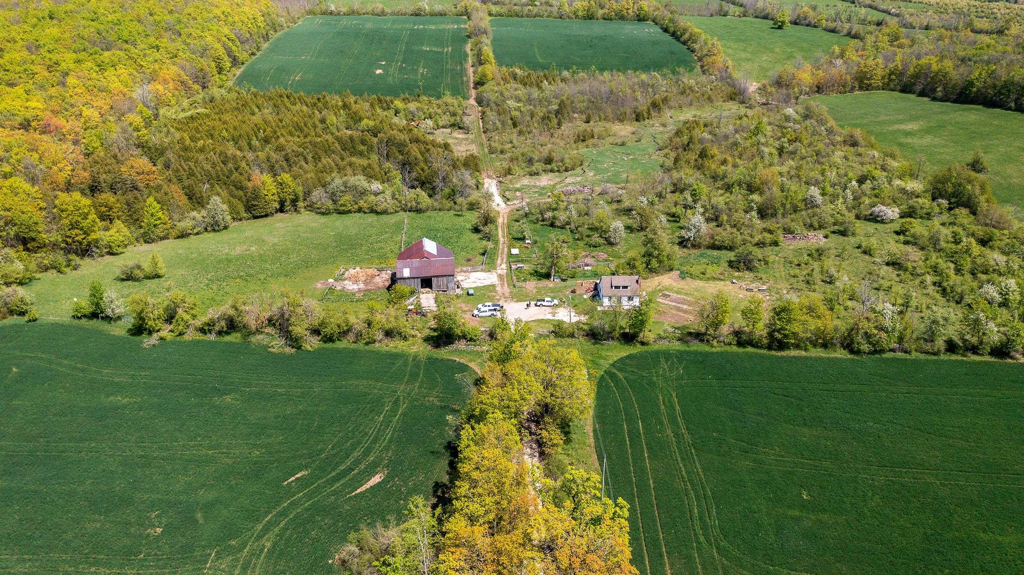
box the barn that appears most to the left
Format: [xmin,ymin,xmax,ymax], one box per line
[395,237,456,293]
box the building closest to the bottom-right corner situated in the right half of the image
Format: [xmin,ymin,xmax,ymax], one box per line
[597,273,644,310]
